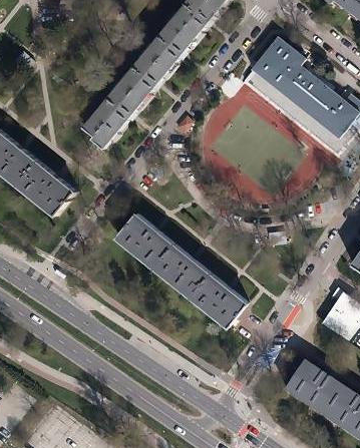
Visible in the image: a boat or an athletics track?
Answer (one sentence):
I can see an athletics track in this picture.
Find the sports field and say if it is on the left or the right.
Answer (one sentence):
It is on the right.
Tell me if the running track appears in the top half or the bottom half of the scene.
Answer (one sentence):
Seen from above, the running track lies in the top half of the view.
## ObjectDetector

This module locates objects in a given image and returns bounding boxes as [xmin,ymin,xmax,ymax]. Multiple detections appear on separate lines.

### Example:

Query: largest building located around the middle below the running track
[115,214,248,330]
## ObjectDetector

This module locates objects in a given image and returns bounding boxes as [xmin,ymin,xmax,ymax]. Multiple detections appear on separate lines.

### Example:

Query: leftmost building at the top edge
[82,0,232,151]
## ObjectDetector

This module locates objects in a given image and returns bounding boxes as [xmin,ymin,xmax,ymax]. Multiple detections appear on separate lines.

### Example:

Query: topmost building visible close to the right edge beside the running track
[253,37,360,139]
